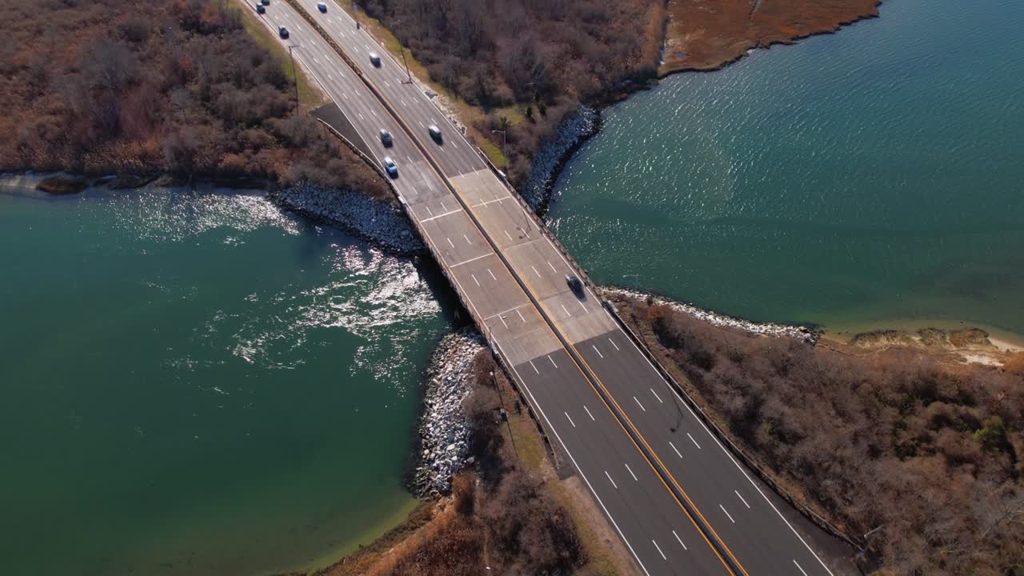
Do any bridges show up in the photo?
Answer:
Yes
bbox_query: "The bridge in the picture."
[397,167,624,367]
